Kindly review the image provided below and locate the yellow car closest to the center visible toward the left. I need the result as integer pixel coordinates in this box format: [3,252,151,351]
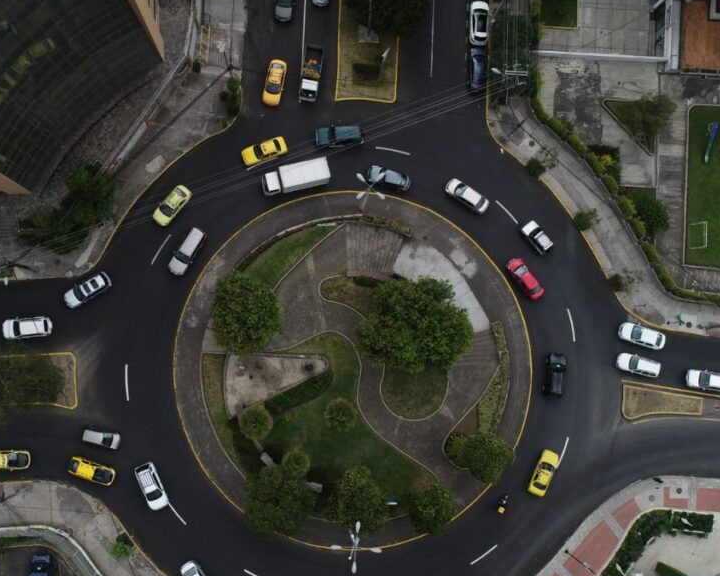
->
[241,134,290,167]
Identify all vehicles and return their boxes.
[616,321,667,350]
[80,427,123,452]
[366,165,413,193]
[261,57,286,106]
[529,450,559,497]
[0,447,32,472]
[504,256,549,301]
[134,461,168,512]
[272,0,295,22]
[64,454,117,487]
[518,219,557,257]
[444,180,491,214]
[153,183,192,228]
[615,352,663,380]
[685,367,720,391]
[468,1,491,46]
[180,559,206,576]
[241,134,290,167]
[316,124,363,149]
[3,317,53,340]
[296,42,326,104]
[167,225,207,277]
[62,271,113,306]
[311,0,330,7]
[259,155,333,198]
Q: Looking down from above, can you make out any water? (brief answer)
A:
No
